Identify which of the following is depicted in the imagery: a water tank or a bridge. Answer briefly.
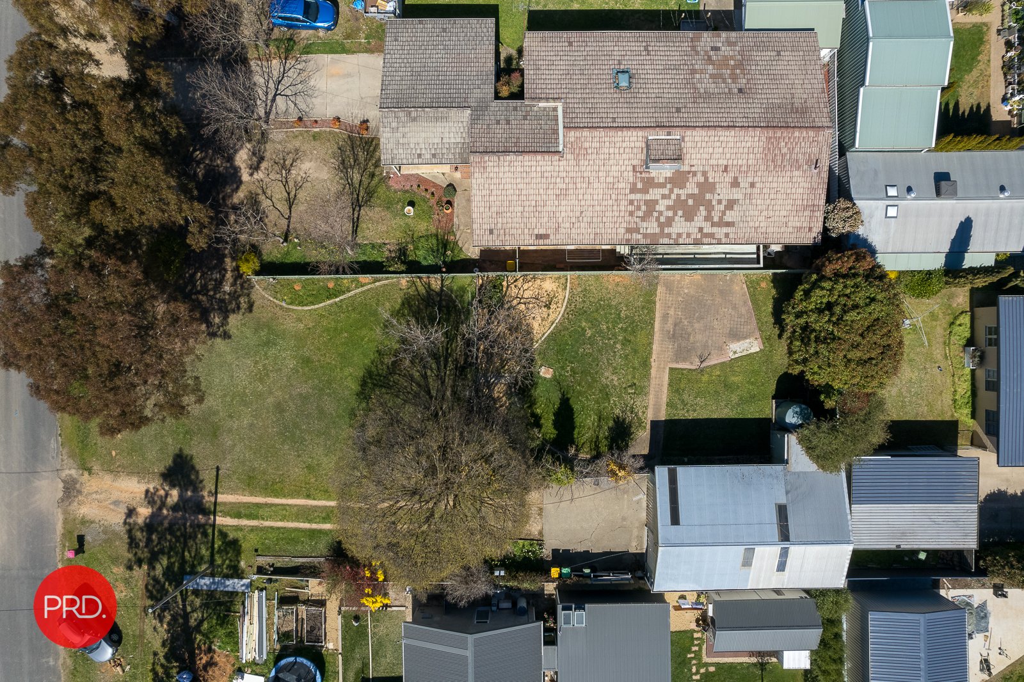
water tank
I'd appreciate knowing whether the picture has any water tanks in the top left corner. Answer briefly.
No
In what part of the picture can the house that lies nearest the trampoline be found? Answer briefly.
bottom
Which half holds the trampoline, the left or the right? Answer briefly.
left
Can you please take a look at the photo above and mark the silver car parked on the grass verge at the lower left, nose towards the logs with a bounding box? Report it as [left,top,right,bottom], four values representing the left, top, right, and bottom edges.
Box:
[53,599,115,657]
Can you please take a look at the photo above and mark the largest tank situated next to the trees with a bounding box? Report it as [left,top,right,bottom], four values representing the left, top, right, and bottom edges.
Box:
[776,399,813,431]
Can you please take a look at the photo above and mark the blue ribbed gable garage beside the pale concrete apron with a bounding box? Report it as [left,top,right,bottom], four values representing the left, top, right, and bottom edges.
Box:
[846,595,969,682]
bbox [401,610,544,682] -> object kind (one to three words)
house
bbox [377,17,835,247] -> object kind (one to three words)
house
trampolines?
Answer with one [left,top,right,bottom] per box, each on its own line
[265,651,323,682]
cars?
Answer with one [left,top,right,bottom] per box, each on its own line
[270,0,339,33]
[53,599,115,657]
